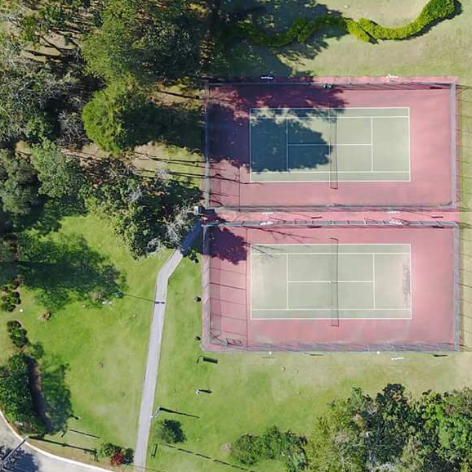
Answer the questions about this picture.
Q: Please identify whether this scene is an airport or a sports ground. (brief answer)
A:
sports ground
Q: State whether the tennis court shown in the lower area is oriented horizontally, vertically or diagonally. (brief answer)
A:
horizontally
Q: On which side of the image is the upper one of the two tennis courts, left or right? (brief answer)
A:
right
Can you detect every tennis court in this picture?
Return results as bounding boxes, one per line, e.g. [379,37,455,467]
[201,77,459,211]
[202,224,460,351]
